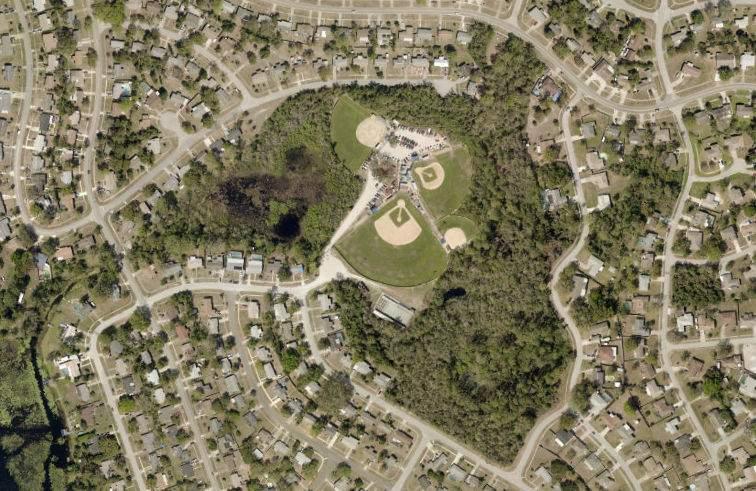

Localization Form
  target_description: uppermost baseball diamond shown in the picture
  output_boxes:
[331,94,387,171]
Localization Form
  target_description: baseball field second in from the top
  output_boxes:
[413,145,473,221]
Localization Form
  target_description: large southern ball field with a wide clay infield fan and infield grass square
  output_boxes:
[334,193,447,288]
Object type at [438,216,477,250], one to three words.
baseball field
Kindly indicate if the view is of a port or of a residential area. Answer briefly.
residential area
